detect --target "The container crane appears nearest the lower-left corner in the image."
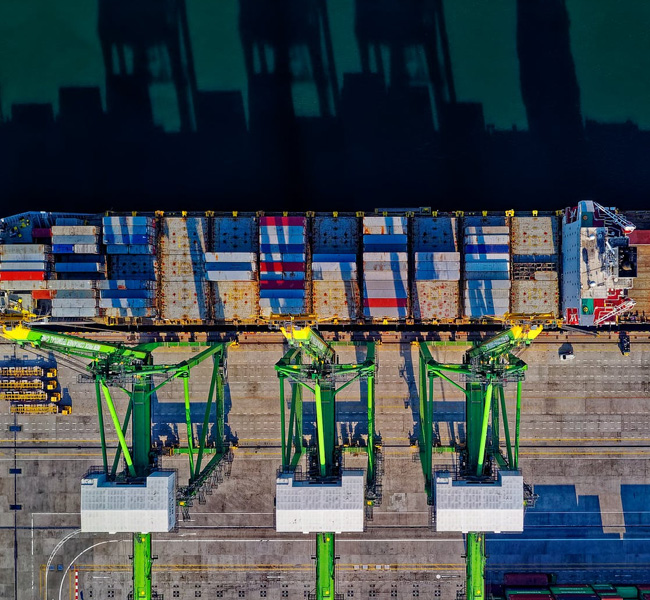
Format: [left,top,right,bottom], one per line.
[0,312,234,600]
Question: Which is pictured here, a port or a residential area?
port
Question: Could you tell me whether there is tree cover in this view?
No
